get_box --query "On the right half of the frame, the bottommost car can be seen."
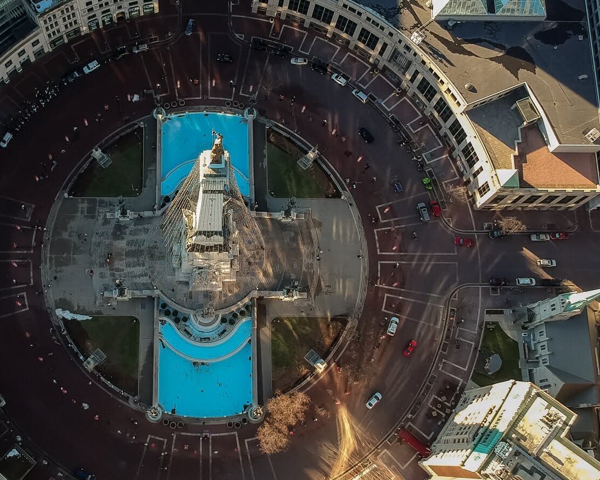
[366,392,381,409]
